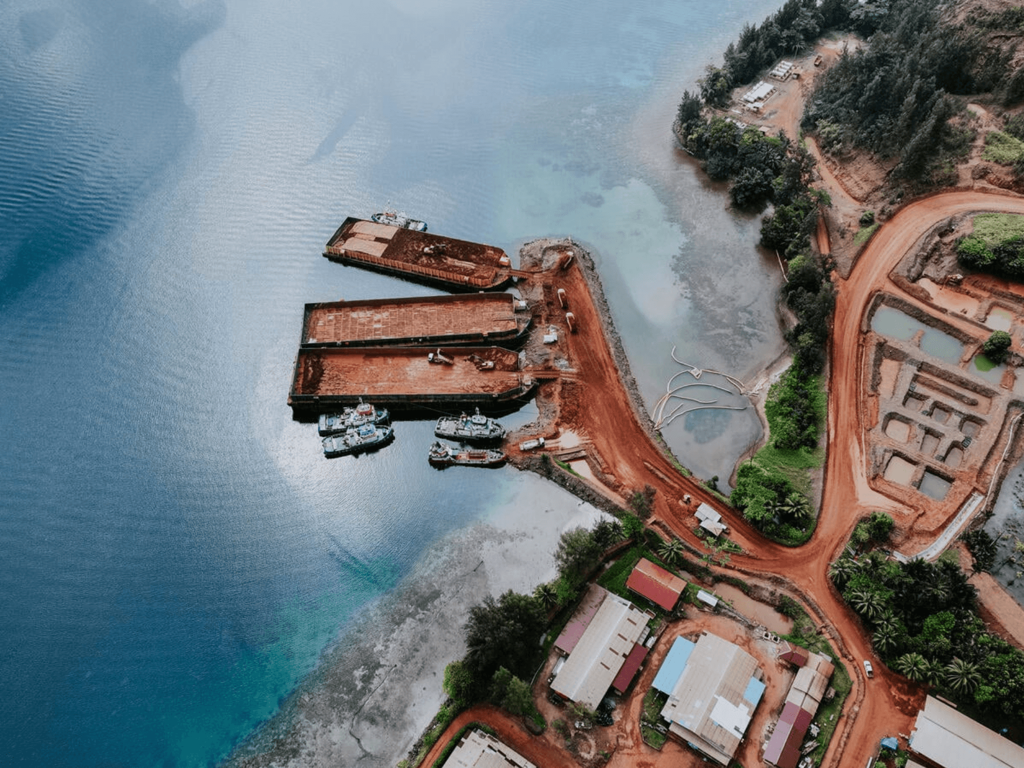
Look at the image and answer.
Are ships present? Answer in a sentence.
Yes, there is a ship in the image.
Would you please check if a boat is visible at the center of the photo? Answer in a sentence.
Yes, a boat is visible at the center of the photo.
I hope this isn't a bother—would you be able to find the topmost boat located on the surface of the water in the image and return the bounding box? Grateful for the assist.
[372,203,431,233]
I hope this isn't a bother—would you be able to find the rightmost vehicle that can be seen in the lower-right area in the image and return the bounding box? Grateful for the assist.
[862,660,874,678]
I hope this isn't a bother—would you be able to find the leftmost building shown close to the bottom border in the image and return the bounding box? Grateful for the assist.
[444,730,536,768]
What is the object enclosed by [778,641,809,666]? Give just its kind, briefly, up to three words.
building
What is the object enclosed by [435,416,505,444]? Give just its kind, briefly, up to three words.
boat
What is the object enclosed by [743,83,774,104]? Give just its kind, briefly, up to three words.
shed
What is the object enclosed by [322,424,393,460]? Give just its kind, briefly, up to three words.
boat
